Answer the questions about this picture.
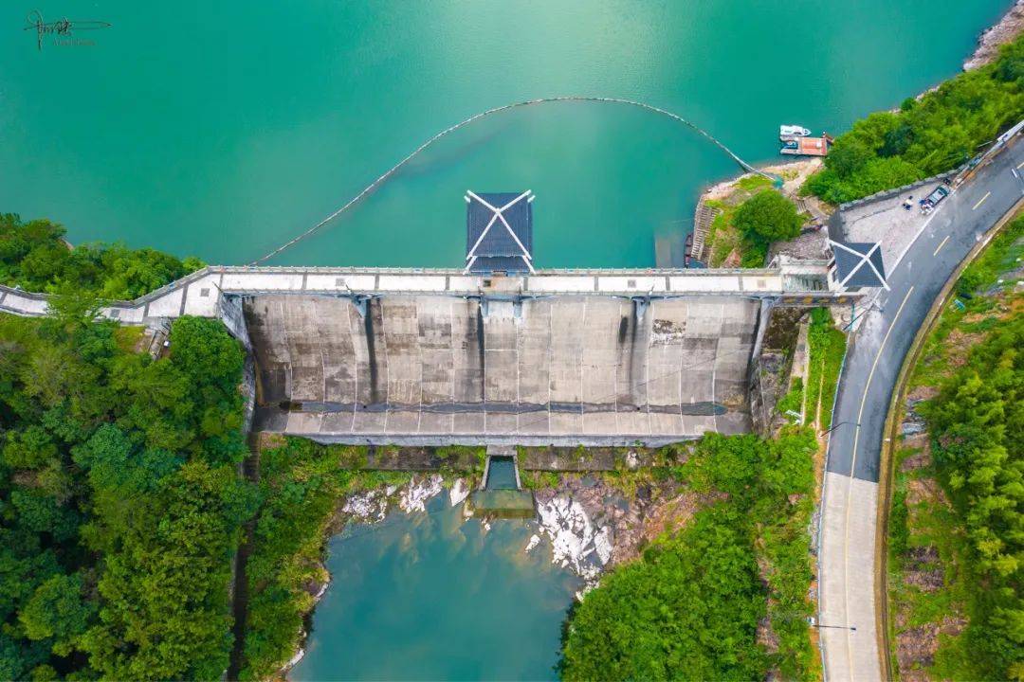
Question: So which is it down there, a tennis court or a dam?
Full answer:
The one in the frame is a dam.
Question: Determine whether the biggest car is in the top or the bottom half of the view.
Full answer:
The top half of the photo is where the biggest car is.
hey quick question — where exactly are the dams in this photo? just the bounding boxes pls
[221,267,782,518]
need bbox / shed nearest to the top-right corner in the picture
[816,240,886,291]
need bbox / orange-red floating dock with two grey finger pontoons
[781,131,827,154]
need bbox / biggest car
[928,184,954,205]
